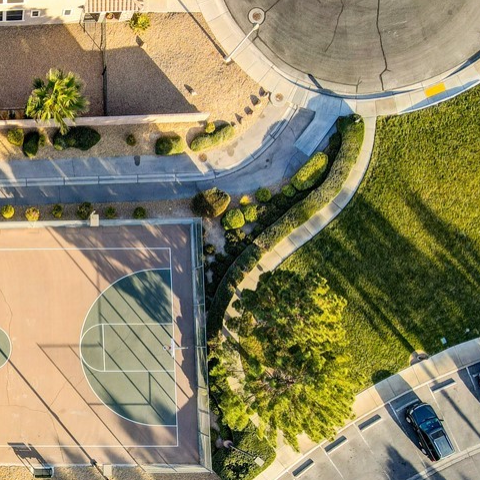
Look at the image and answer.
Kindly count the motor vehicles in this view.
1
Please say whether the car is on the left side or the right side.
right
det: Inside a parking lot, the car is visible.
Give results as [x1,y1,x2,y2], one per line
[408,401,461,464]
